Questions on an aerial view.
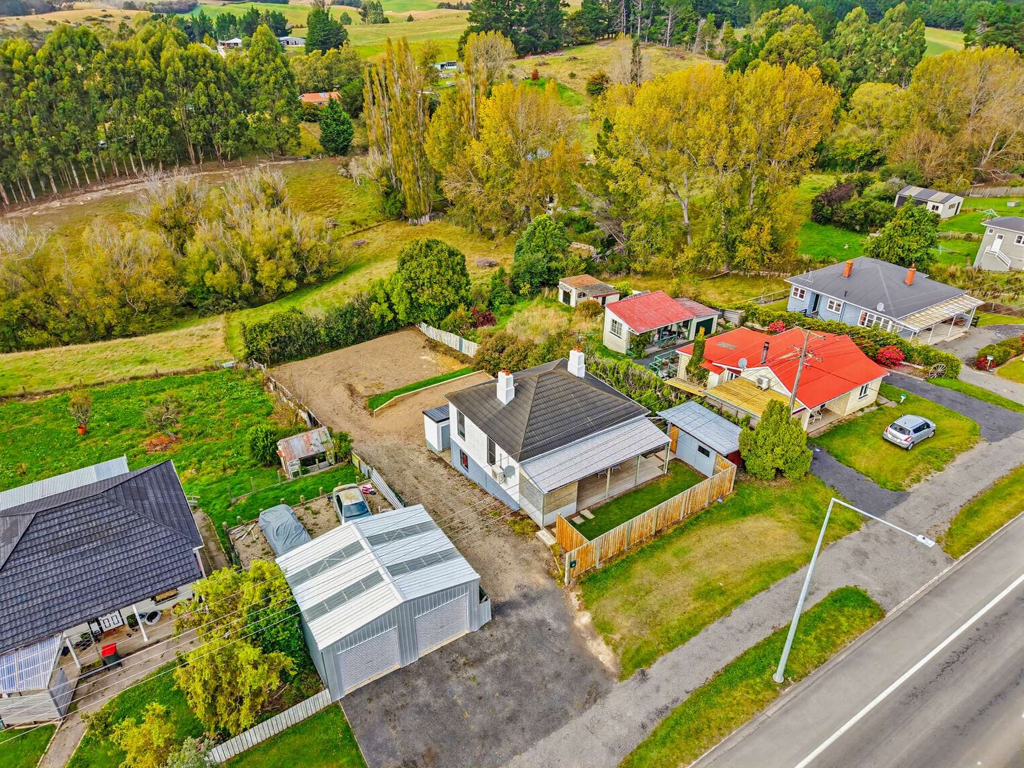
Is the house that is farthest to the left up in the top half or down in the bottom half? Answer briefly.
bottom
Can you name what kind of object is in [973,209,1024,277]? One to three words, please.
house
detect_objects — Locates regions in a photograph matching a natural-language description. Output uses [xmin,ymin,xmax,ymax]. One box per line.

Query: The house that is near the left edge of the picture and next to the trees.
[0,454,211,745]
